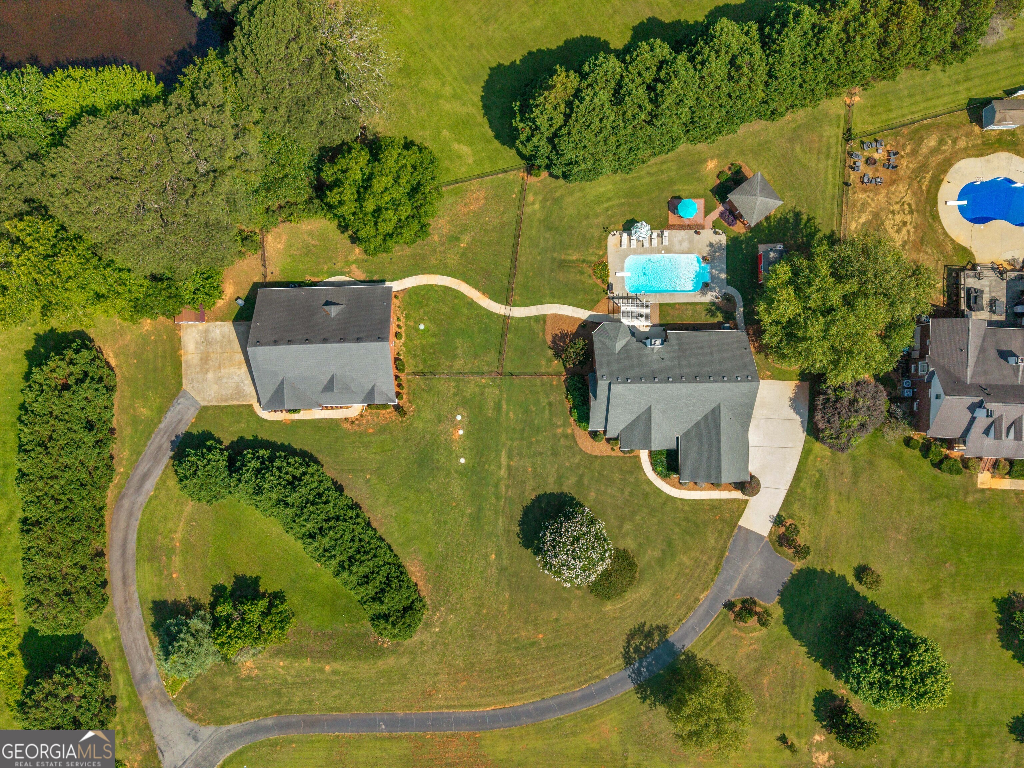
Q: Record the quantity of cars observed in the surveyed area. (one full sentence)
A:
The count of cars is 0.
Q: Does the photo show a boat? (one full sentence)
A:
No, the frame has no boat in it.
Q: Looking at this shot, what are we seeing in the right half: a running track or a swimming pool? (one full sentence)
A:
The feature located in the right half is a swimming pool.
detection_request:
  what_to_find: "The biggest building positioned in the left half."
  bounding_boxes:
[246,285,398,412]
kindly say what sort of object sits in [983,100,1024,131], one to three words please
shed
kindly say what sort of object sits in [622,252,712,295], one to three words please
swimming pool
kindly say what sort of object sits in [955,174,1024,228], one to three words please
swimming pool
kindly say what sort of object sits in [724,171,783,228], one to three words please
gazebo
